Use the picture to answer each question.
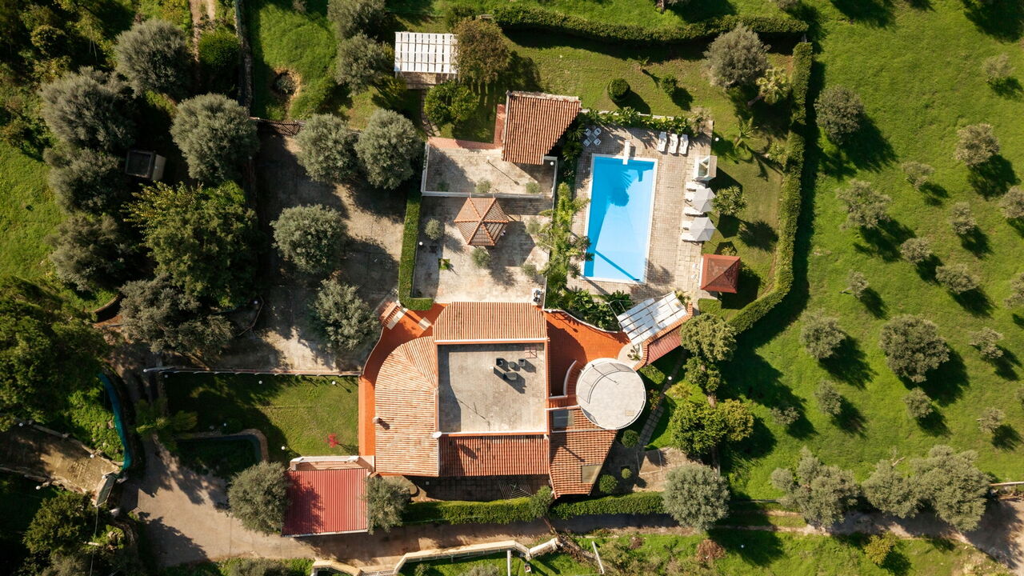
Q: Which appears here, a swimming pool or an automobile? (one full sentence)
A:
Visible in the photo is a swimming pool.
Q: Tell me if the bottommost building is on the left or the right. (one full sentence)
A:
It is on the left.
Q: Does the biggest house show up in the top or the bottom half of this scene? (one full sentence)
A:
The bottom half of the photo is where the biggest house is.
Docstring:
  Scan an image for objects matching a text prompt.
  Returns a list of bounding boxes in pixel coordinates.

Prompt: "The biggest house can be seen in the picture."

[374,302,646,497]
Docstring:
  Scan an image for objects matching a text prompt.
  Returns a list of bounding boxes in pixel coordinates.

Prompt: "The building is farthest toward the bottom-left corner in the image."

[281,467,371,537]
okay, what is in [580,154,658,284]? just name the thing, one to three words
swimming pool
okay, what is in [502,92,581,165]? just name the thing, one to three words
shed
